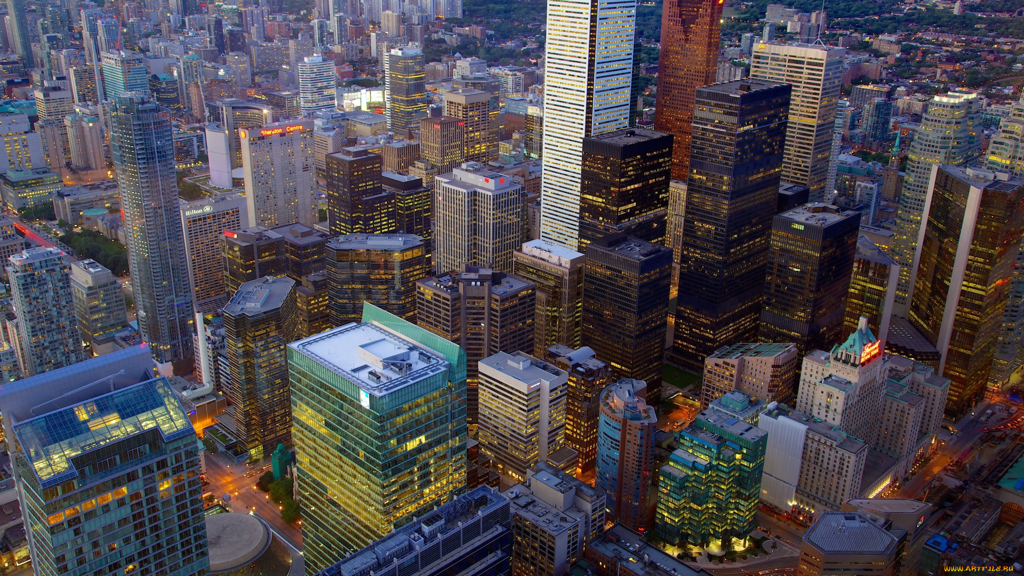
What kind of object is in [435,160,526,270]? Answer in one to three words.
building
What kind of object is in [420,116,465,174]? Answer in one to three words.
building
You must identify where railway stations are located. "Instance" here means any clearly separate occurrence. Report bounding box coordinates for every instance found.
[995,458,1024,525]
